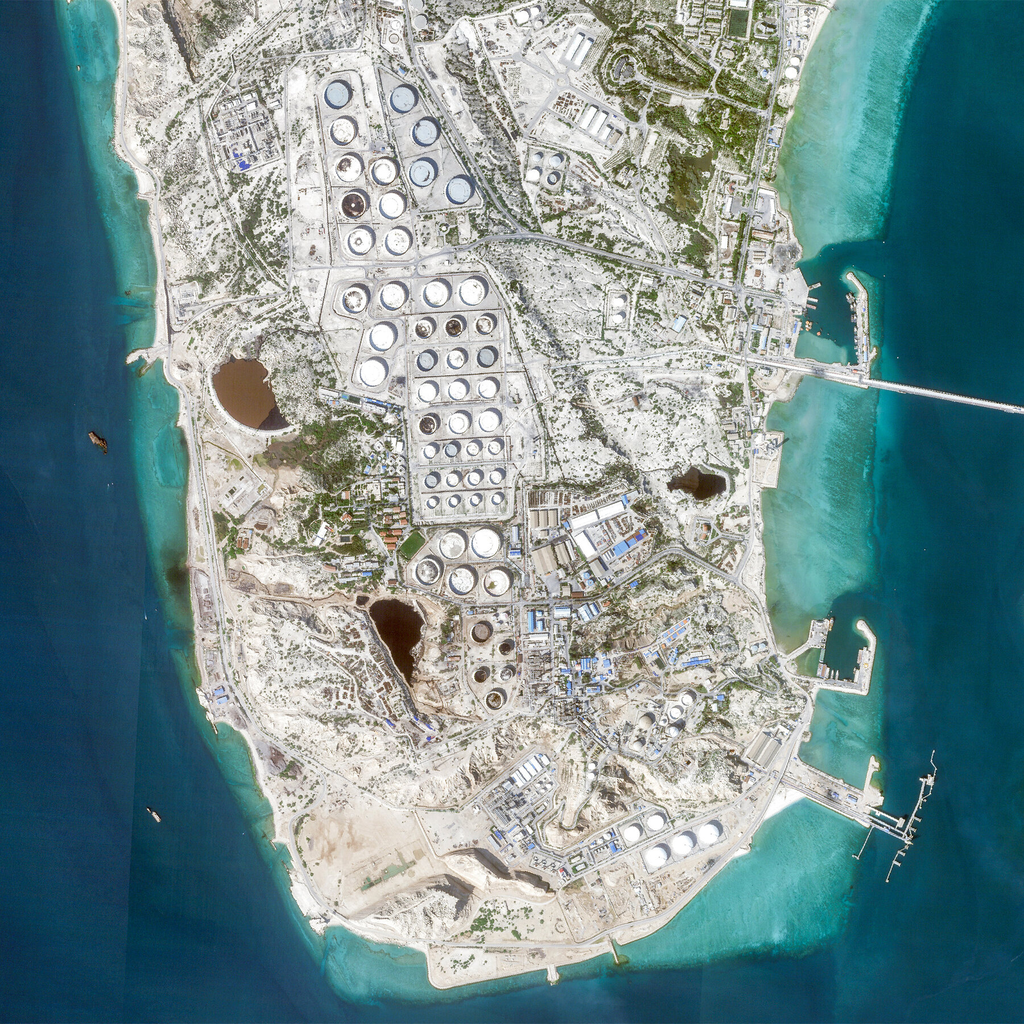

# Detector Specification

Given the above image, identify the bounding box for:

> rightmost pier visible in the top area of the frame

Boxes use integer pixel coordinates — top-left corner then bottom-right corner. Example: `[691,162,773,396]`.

[862,377,1024,414]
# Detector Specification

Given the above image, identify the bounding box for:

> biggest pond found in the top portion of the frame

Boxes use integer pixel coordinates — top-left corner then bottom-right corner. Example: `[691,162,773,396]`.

[212,359,290,431]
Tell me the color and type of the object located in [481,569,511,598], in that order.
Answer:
white storage tank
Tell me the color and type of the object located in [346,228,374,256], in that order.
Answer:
white storage tank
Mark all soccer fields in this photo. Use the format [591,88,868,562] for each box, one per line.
[397,528,427,561]
[730,8,750,37]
